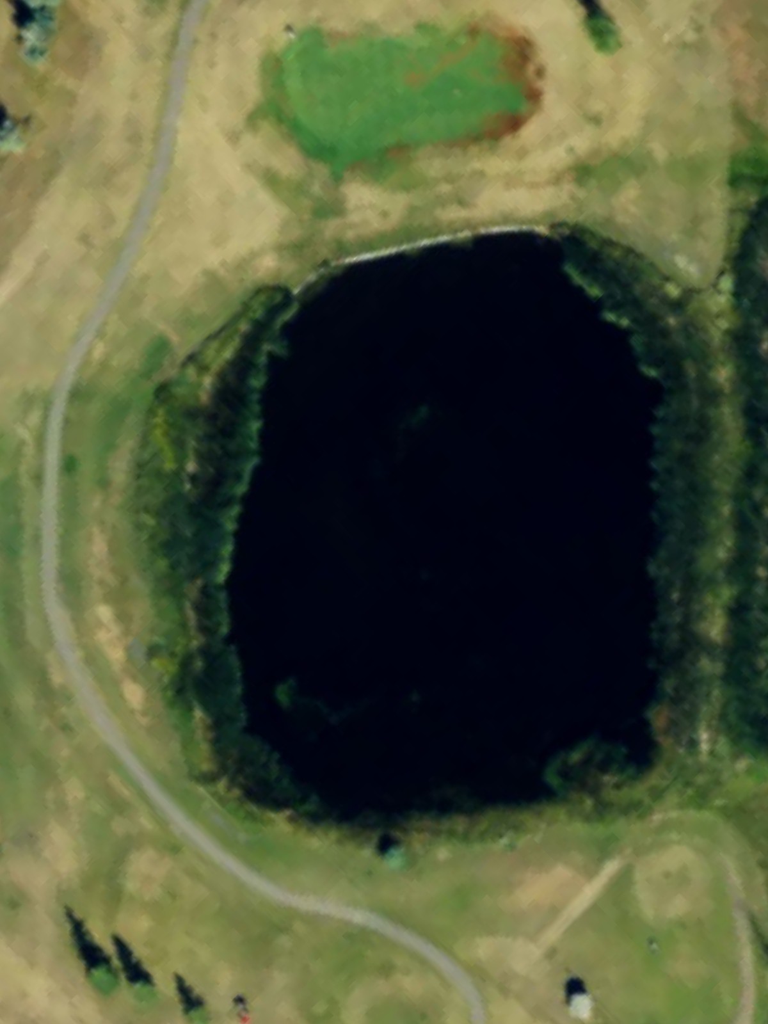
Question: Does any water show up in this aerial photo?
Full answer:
Yes, the picture does contain water.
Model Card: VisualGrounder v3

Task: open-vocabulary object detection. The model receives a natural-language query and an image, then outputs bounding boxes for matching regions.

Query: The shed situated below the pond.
[570,995,593,1022]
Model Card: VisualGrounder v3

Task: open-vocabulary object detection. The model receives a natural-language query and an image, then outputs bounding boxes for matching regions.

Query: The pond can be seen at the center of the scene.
[224,230,662,821]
